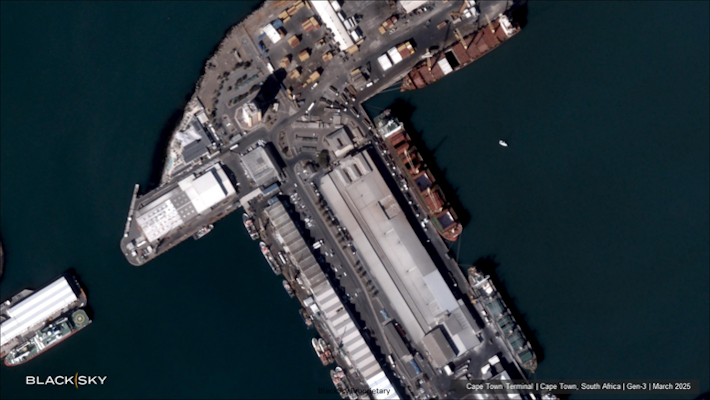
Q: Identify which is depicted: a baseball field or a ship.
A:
ship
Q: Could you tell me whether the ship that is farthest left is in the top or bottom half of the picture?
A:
bottom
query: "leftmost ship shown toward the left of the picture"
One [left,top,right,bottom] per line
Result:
[5,308,92,365]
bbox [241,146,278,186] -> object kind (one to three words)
building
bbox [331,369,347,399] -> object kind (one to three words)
boat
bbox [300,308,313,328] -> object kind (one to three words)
boat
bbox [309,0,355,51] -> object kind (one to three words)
shed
